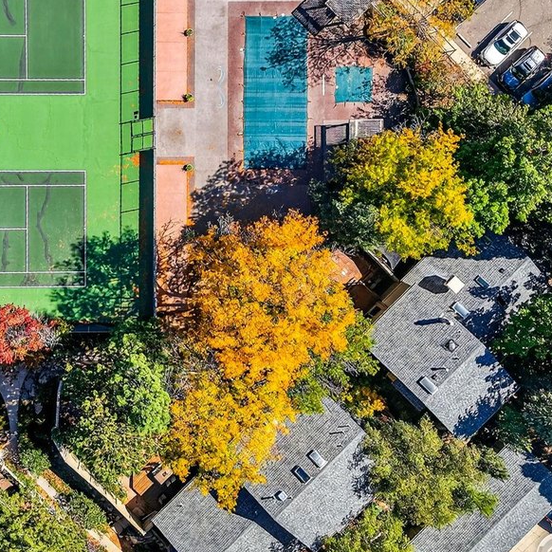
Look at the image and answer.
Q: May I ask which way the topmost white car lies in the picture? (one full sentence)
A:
The topmost white car is laid out diagonally.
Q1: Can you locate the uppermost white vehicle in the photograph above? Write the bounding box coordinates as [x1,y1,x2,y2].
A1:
[477,20,528,68]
